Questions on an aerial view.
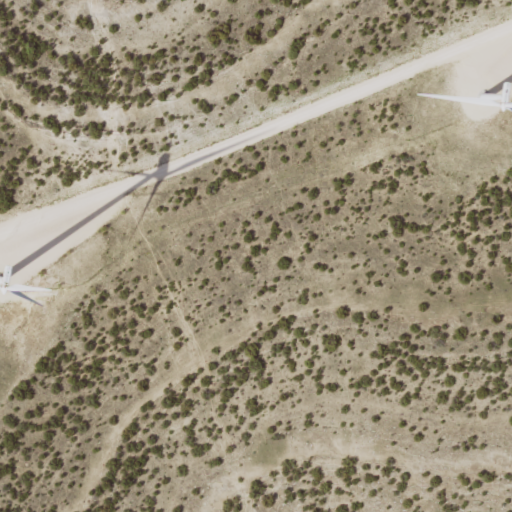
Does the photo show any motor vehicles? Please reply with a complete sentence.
No, no motor vehicle is visible in the view.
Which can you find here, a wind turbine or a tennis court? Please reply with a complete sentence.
I can see a wind turbine in this picture.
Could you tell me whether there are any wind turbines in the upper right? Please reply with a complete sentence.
Yes, looking in the upper right, one can make out a wind turbine.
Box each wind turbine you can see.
[415,82,512,111]
[0,268,53,310]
